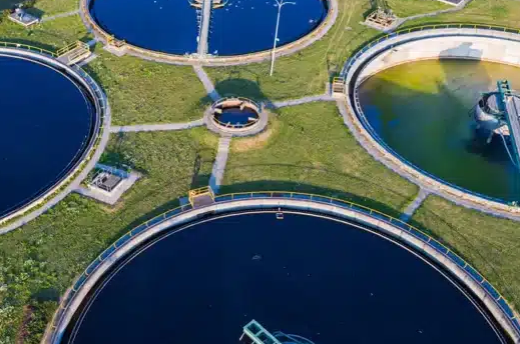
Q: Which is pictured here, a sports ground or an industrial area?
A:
industrial area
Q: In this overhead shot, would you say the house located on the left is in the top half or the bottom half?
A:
top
